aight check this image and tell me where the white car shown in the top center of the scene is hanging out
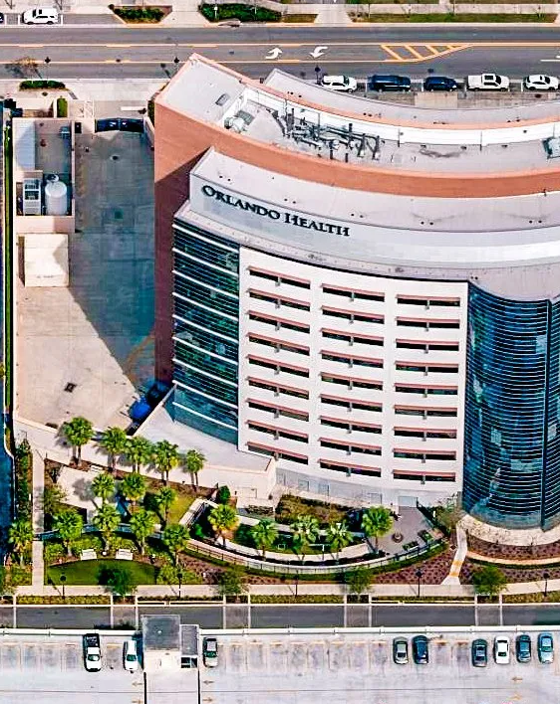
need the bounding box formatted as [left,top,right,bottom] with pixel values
[320,74,357,91]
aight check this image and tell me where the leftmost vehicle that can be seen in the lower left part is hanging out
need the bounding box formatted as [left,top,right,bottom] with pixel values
[84,634,100,671]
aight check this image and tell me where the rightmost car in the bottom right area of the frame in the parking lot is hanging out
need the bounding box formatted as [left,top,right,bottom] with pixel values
[538,634,555,664]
